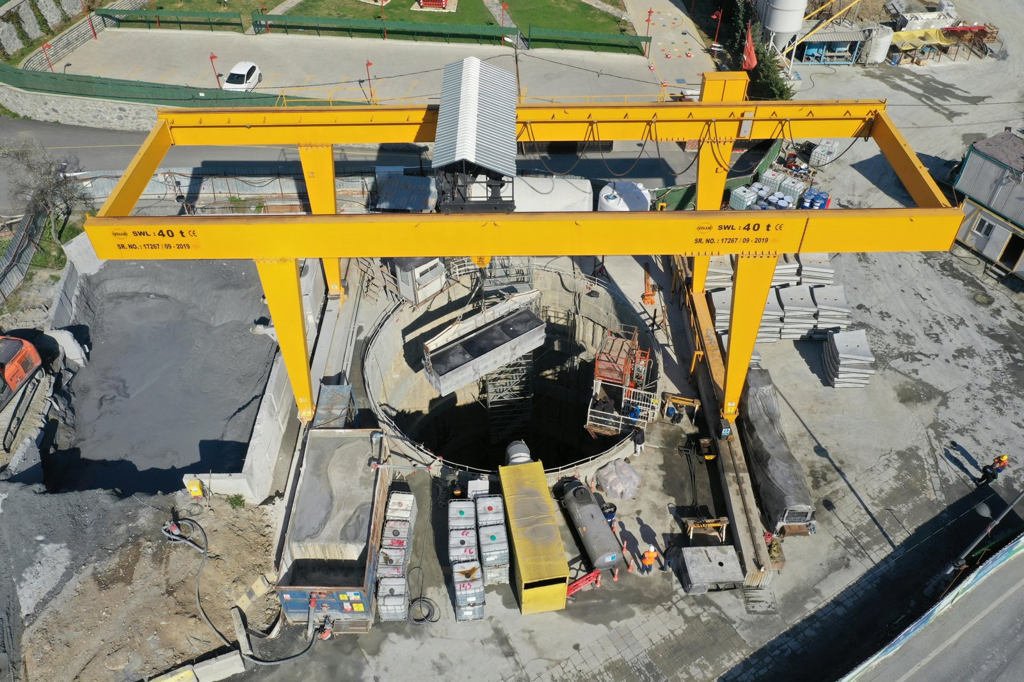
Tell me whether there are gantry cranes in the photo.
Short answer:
Yes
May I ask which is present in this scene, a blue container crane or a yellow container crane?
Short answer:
yellow container crane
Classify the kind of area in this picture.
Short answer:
industrial area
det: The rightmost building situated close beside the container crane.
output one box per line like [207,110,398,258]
[953,206,1024,301]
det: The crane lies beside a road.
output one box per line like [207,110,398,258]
[85,53,966,428]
